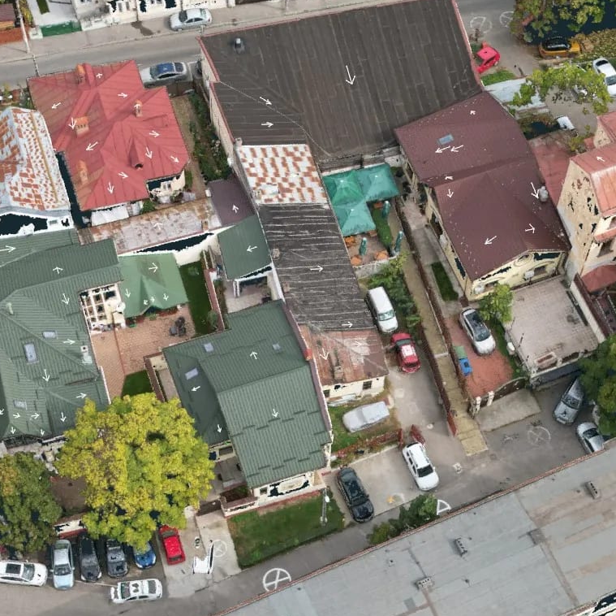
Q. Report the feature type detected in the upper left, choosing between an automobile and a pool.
automobile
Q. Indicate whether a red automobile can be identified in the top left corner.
No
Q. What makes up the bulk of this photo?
buildings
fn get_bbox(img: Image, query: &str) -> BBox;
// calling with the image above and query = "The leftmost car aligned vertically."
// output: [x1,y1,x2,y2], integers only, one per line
[49,541,74,591]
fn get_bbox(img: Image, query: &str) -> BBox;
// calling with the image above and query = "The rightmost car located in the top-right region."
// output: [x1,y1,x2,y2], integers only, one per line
[592,61,616,96]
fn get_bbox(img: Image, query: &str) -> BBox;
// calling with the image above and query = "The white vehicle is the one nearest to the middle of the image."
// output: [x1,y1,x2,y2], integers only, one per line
[367,286,397,333]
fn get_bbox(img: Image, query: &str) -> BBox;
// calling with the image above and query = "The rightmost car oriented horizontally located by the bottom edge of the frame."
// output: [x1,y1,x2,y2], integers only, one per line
[110,579,162,605]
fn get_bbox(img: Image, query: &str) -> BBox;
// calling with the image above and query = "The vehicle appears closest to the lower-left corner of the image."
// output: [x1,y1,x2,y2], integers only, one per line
[0,560,47,588]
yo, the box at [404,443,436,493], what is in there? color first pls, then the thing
white car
